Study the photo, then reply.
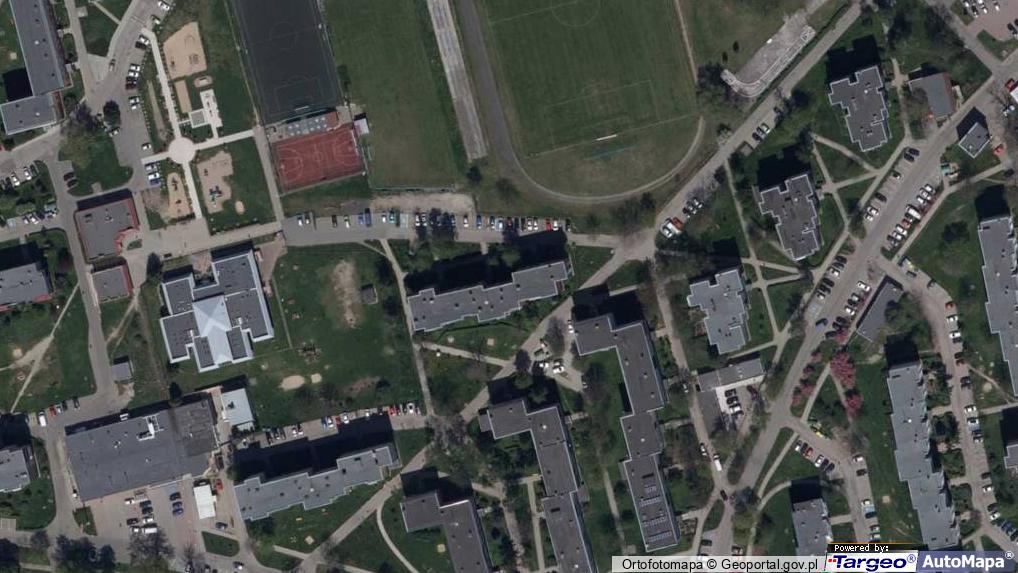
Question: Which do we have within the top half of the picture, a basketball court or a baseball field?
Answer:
basketball court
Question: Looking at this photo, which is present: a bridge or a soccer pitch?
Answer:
soccer pitch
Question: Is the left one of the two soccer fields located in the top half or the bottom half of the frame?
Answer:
top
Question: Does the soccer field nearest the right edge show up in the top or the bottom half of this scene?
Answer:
top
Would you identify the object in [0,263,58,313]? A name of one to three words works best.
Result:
building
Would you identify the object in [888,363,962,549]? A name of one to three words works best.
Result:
building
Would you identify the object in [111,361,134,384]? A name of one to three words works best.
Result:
shed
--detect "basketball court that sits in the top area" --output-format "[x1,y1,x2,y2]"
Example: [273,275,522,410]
[270,123,366,197]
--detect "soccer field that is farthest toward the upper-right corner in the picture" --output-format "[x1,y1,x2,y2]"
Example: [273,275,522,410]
[477,0,701,198]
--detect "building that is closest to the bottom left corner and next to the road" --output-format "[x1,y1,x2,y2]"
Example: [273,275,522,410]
[0,445,40,494]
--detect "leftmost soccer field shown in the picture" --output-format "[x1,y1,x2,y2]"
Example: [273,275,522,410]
[227,0,347,135]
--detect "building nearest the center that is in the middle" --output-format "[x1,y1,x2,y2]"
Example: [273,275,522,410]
[408,262,574,333]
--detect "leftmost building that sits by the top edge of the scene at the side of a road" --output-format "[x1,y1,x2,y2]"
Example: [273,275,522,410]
[0,0,74,135]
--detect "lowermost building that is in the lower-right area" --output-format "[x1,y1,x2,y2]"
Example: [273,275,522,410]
[792,496,839,573]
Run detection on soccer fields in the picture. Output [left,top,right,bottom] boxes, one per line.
[477,0,701,198]
[227,0,347,135]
